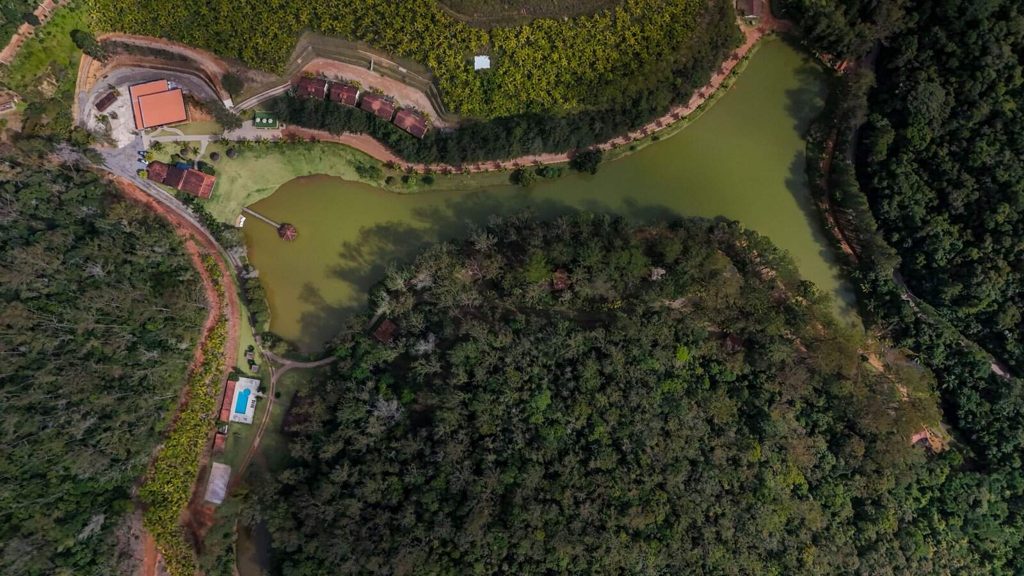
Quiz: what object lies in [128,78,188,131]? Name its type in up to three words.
building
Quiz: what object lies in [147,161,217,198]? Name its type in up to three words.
building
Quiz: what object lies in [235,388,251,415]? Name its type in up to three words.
swimming pool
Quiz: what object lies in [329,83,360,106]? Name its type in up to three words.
house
